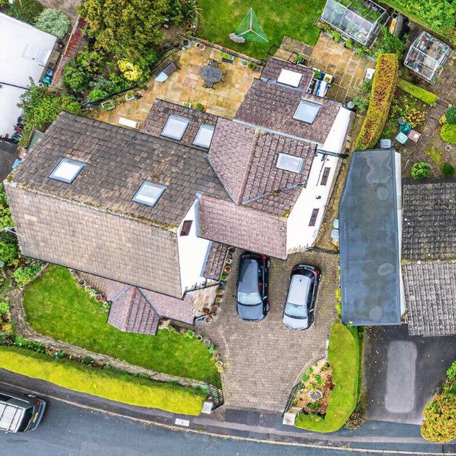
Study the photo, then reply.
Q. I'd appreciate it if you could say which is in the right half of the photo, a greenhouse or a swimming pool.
greenhouse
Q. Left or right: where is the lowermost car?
left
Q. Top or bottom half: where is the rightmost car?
bottom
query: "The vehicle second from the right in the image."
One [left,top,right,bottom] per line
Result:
[233,252,273,321]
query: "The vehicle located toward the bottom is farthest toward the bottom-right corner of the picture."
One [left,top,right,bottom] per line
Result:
[281,263,323,330]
